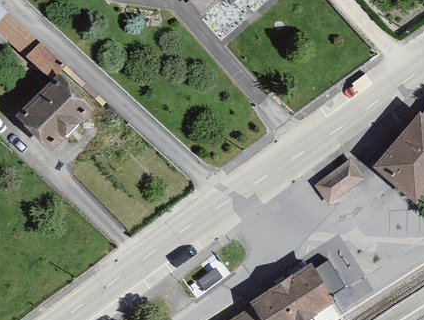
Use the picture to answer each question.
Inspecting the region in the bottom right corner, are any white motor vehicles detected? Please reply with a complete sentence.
No, in the bottom right corner there is no white motor vehicle.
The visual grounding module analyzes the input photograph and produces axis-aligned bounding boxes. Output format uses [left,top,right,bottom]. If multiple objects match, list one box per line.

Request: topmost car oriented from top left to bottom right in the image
[7,132,28,152]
